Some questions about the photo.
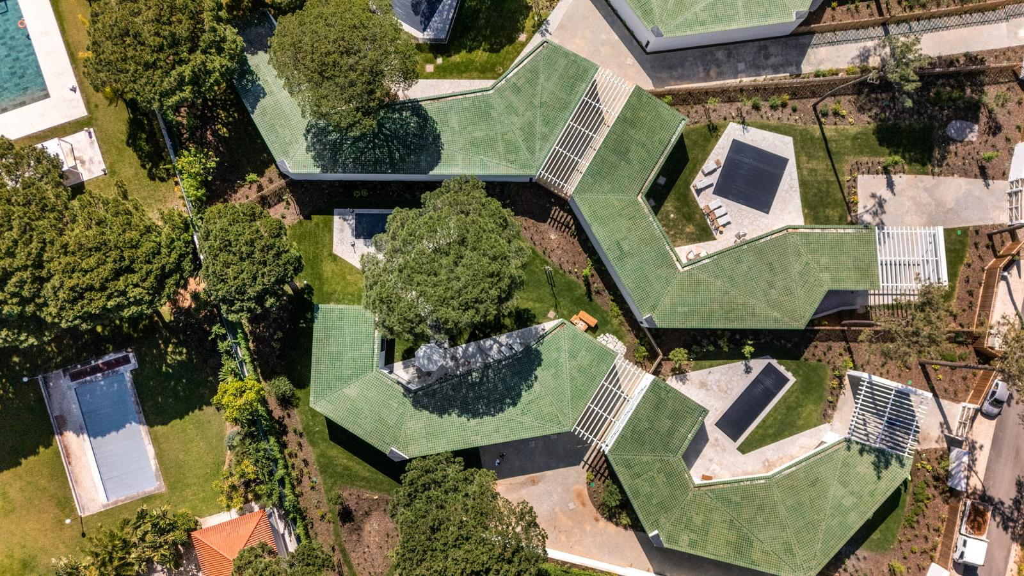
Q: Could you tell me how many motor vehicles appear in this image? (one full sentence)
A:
The photo contains 2 motor vehicles.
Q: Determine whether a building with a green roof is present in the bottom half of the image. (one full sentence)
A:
Yes, I can see a building with a green roof in the bottom half of the image.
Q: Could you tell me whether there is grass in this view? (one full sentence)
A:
Yes, some grass is visible.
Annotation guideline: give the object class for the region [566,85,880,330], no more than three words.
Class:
building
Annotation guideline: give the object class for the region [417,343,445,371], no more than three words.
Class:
umbrella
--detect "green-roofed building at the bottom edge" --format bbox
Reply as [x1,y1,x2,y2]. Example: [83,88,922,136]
[603,376,913,576]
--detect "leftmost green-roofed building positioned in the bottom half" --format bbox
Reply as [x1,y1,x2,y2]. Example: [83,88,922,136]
[310,304,619,459]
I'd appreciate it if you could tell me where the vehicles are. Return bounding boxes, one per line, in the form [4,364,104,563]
[954,500,1000,571]
[981,374,1015,415]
